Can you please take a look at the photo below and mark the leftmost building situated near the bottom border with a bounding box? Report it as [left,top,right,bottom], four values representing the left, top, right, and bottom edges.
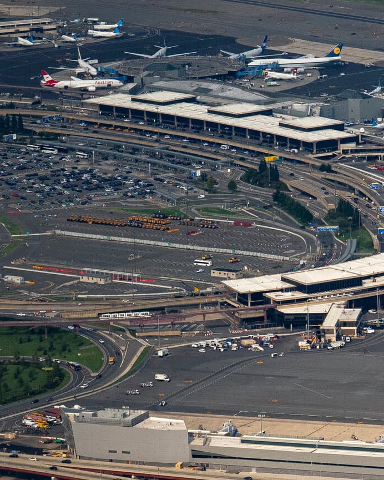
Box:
[60,404,190,466]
